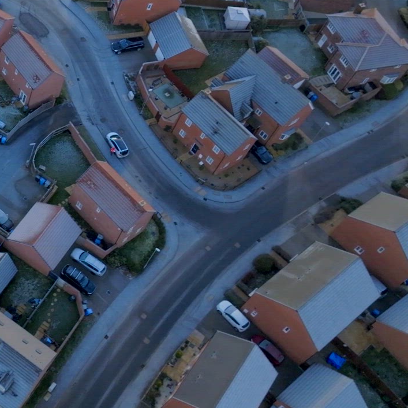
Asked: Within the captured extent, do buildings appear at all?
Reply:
Yes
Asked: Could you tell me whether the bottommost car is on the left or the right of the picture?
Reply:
right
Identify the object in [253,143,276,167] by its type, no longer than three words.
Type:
car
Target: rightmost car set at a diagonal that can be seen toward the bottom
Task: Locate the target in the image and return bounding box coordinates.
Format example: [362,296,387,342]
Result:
[247,331,290,370]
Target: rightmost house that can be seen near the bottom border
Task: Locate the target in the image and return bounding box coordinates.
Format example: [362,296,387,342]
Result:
[353,297,408,394]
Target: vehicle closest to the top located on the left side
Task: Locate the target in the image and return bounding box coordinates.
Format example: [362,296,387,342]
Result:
[113,37,144,52]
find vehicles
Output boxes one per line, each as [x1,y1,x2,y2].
[0,208,15,231]
[70,248,109,277]
[215,301,252,333]
[253,143,276,167]
[113,37,144,52]
[105,131,131,159]
[60,263,98,295]
[247,331,290,370]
